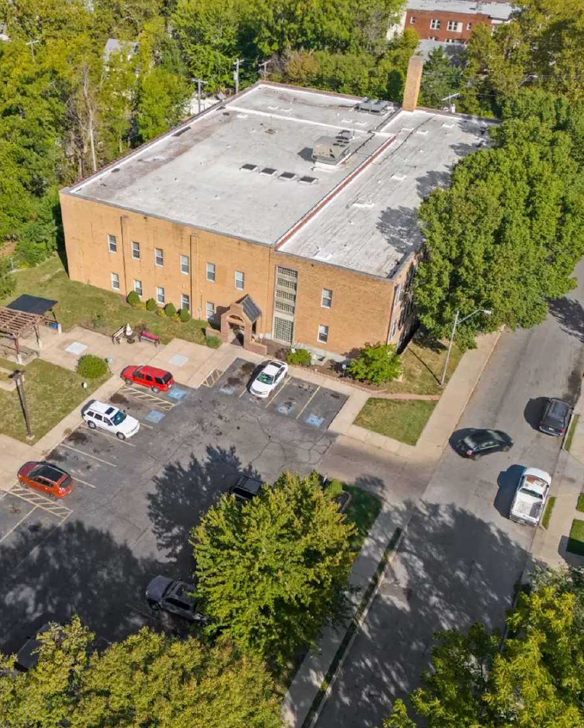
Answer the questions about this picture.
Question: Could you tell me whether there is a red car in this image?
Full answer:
Yes, this view includes a red car.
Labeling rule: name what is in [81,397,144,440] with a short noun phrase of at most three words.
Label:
car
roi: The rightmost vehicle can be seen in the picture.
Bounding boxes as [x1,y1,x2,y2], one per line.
[540,396,577,439]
